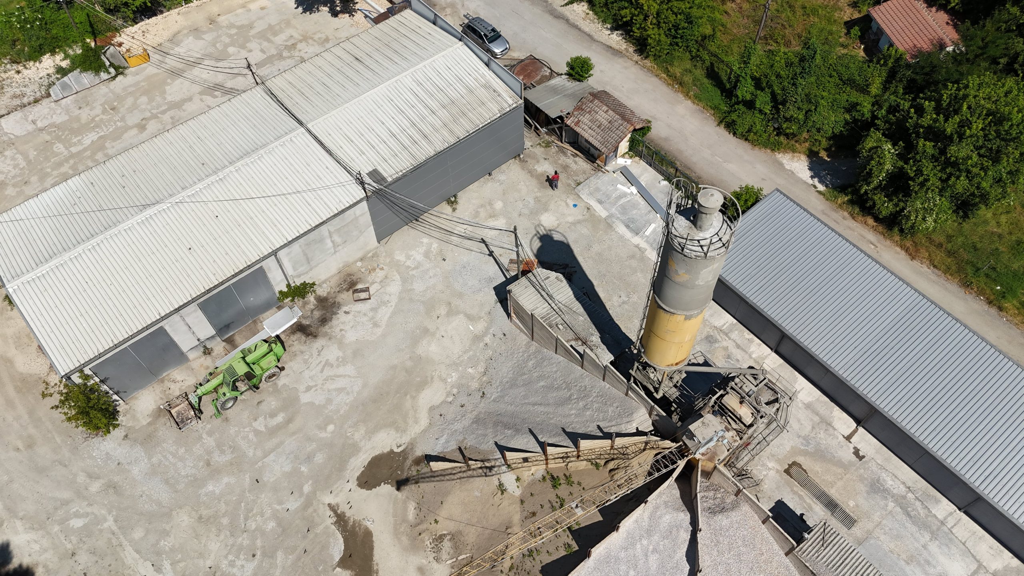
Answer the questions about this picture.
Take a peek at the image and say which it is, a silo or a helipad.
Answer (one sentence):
It is a silo that can be seen here.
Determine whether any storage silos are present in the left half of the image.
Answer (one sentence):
No, no storage silo is visible in the left half of the image.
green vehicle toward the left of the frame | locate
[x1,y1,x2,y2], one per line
[185,341,287,425]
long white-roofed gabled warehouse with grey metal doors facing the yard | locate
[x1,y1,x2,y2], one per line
[0,0,529,404]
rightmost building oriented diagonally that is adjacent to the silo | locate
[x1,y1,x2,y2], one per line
[713,187,1024,553]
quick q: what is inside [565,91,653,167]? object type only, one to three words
shed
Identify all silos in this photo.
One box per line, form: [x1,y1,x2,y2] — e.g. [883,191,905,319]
[631,181,743,408]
